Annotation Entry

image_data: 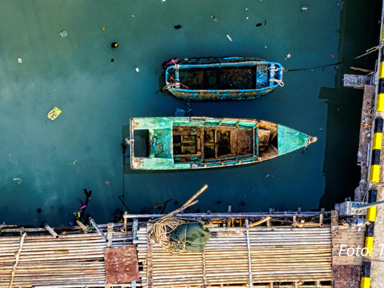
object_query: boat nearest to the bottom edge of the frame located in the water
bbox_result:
[125,117,318,170]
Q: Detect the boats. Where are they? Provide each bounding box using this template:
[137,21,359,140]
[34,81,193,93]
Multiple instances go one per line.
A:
[125,117,318,170]
[162,54,284,103]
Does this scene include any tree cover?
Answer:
No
